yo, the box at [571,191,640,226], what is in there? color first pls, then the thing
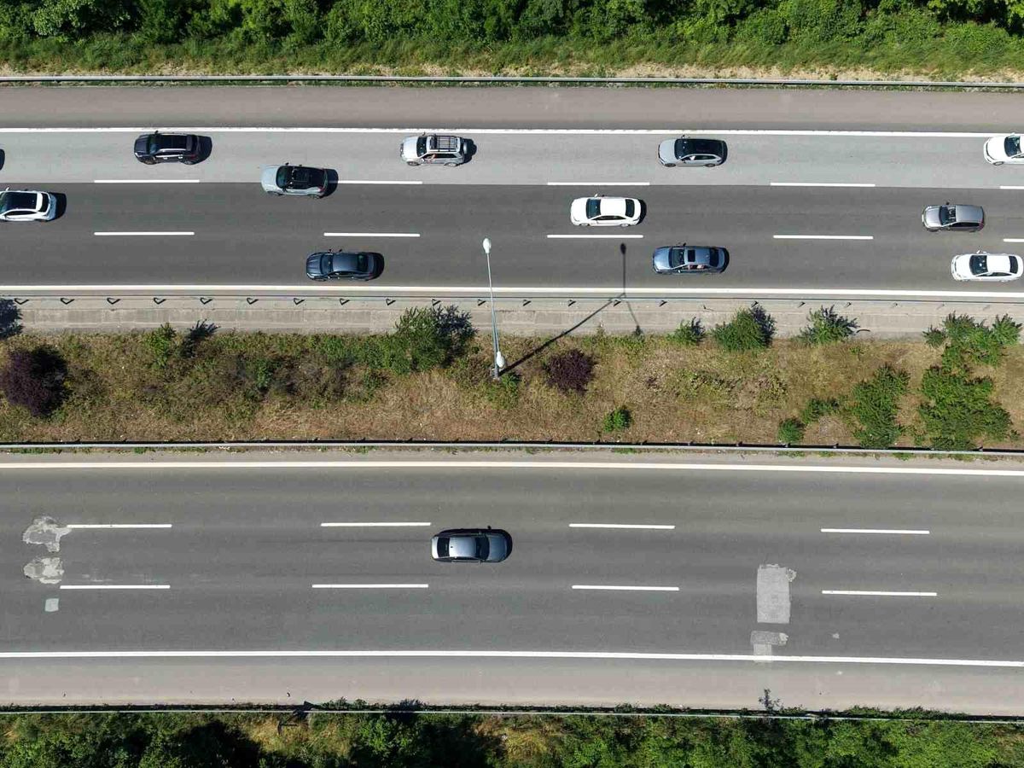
white car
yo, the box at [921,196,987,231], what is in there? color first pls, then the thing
gray car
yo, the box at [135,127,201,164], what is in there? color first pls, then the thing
black car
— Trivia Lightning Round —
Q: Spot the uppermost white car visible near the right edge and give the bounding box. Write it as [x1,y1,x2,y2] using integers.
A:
[982,129,1024,165]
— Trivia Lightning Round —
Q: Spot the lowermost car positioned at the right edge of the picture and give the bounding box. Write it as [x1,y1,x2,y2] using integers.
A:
[950,246,1023,282]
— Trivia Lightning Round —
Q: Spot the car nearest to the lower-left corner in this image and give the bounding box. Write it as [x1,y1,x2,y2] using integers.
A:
[432,528,507,567]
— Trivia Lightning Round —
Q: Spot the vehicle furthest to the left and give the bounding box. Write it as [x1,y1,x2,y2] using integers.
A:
[0,184,60,221]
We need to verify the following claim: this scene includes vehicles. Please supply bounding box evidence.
[432,528,507,567]
[262,161,328,198]
[135,127,201,164]
[308,245,376,281]
[571,191,640,226]
[982,129,1024,165]
[658,130,726,166]
[401,129,464,166]
[0,184,60,221]
[921,196,987,231]
[950,246,1023,282]
[653,238,725,274]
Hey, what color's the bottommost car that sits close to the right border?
white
